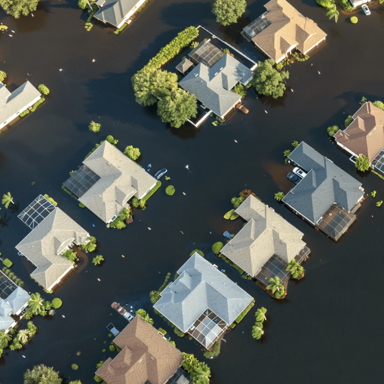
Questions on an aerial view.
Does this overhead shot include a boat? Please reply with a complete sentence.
No, no boat is visible in the view.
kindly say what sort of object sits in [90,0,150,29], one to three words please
house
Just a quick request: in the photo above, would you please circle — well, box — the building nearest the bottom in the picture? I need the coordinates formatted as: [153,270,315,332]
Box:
[95,315,197,384]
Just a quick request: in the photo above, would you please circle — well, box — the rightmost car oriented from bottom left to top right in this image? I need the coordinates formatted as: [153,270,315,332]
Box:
[154,166,168,180]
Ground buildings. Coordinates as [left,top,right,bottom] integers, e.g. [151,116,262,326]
[283,141,370,243]
[178,38,255,120]
[333,101,384,176]
[0,269,32,335]
[90,0,150,29]
[220,194,313,294]
[242,0,328,63]
[154,253,253,351]
[0,80,42,132]
[95,315,197,384]
[62,140,157,224]
[15,195,89,290]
